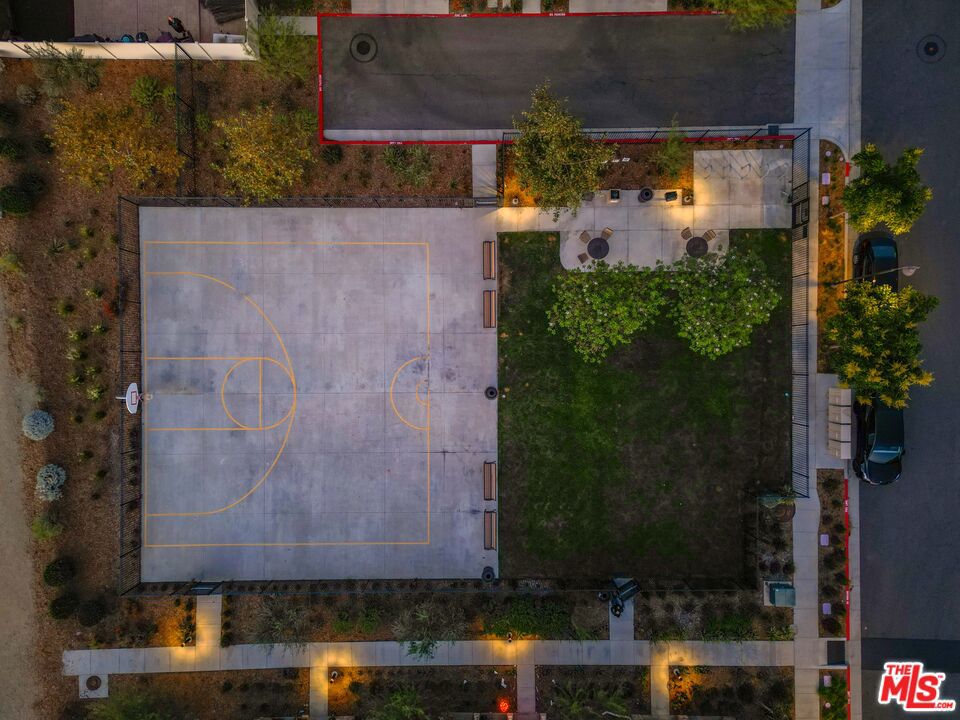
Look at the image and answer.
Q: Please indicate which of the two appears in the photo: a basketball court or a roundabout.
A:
basketball court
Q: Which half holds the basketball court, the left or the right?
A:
left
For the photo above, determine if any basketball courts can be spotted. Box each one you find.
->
[139,206,499,580]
